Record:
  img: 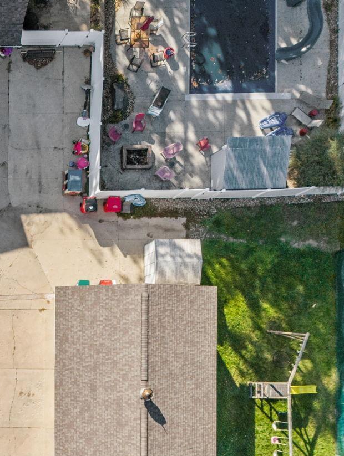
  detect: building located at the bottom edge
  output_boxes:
[53,283,216,456]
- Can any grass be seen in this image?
Yes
